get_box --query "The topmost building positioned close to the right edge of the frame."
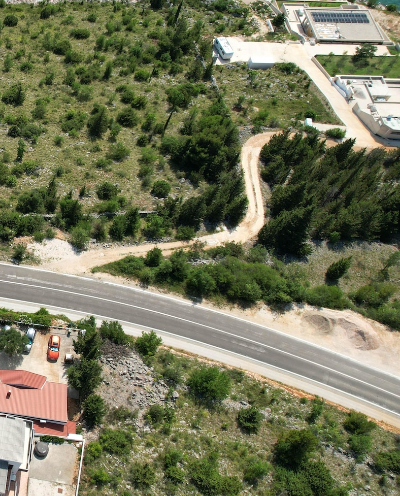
[281,3,385,47]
